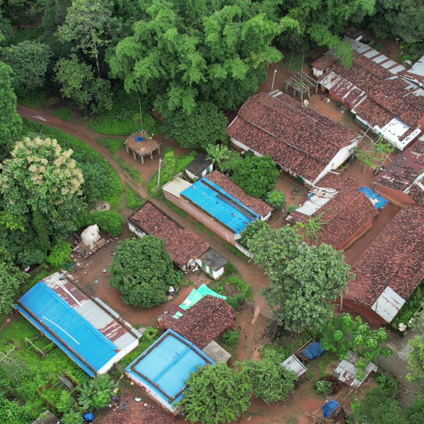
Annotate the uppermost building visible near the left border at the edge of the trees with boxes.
[15,270,142,380]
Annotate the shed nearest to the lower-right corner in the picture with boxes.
[334,357,375,393]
